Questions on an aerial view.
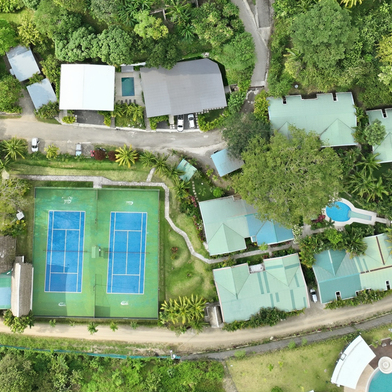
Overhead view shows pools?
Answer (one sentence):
Yes, there's a pool down there.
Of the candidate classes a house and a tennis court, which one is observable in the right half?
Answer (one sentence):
Looking in the right half, you will find a house.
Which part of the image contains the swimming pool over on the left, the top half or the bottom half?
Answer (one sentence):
The top half of the photo is where the swimming pool over on the left is.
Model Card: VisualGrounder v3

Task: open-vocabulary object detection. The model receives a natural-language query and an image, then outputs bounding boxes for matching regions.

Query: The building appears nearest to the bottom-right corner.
[330,334,376,386]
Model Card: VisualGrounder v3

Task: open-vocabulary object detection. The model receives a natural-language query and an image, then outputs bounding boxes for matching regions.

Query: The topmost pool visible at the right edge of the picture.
[324,198,377,226]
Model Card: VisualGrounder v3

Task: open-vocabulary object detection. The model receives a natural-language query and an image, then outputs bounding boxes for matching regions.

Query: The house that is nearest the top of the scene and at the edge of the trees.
[7,46,41,81]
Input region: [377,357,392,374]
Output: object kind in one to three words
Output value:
fountain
